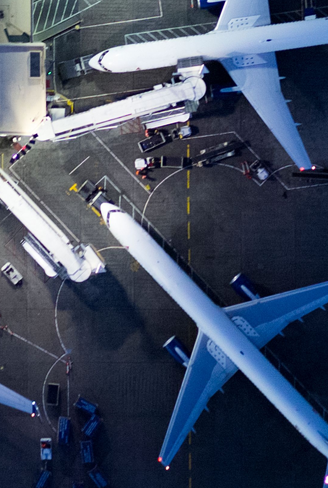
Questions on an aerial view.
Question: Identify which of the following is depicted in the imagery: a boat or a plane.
plane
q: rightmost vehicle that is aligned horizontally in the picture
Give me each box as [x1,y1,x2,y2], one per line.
[293,167,328,183]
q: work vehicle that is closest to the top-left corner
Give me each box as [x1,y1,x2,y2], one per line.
[57,52,98,84]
